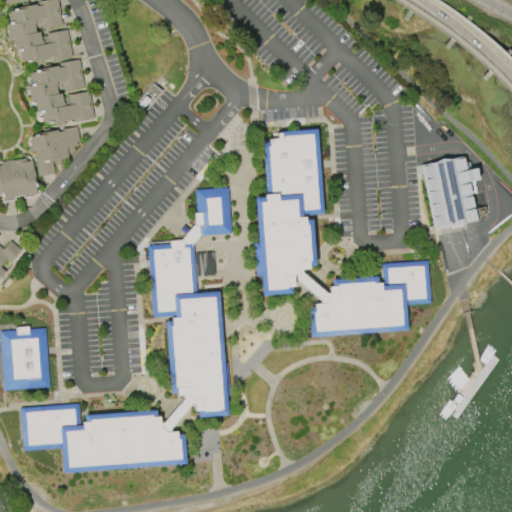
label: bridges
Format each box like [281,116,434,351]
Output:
[395,0,512,92]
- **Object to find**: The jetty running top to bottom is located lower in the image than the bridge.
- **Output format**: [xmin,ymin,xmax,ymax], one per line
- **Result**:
[460,292,482,368]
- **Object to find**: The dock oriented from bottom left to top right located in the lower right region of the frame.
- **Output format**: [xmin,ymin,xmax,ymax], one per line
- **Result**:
[450,354,500,419]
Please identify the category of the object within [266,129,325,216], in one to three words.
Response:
building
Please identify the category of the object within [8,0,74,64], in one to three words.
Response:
house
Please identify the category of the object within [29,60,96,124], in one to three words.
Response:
house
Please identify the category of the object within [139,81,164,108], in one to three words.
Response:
shed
